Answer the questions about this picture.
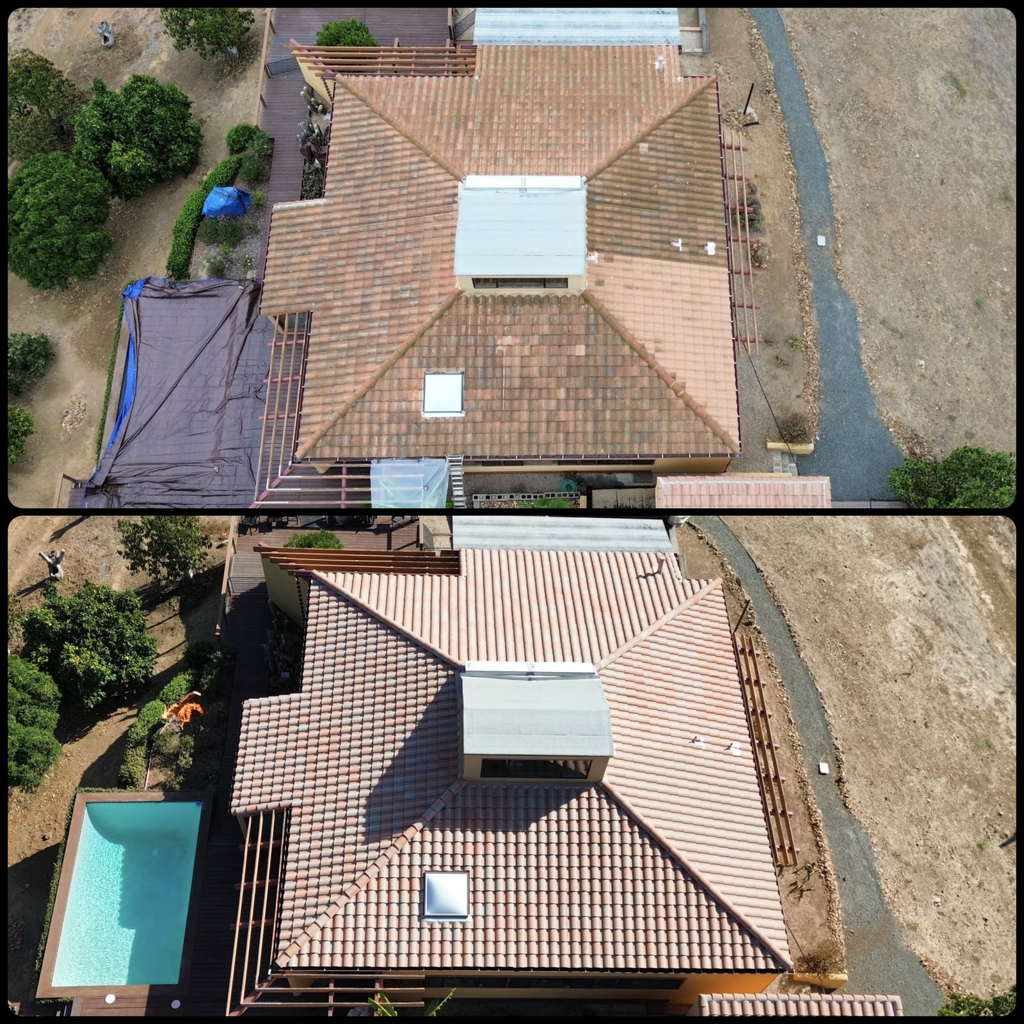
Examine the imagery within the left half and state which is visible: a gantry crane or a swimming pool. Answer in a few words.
swimming pool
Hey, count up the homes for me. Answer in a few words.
two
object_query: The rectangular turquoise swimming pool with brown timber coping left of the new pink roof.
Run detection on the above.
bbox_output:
[36,792,213,999]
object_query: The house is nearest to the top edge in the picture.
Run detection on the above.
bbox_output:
[254,41,747,485]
